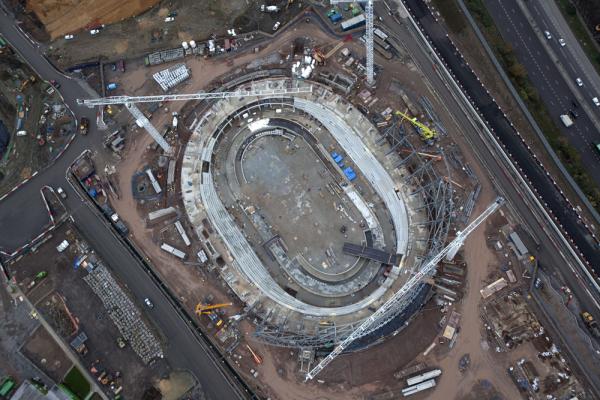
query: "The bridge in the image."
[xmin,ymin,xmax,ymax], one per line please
[342,242,401,267]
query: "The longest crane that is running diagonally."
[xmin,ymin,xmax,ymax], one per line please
[304,196,506,380]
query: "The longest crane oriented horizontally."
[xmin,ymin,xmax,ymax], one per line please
[77,88,313,158]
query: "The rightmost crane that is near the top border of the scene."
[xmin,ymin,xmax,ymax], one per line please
[330,0,383,93]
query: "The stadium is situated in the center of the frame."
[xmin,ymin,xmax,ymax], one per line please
[181,60,458,360]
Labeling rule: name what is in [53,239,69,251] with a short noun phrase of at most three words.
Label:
vehicle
